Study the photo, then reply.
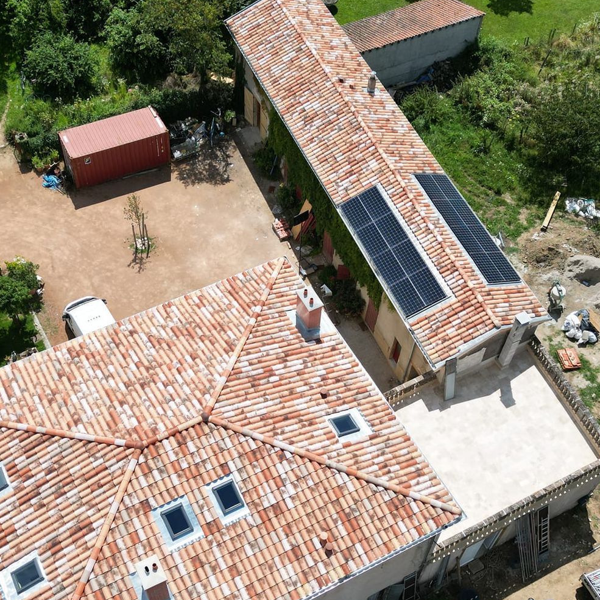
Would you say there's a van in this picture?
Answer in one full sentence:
Yes, a van can be made out from above.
